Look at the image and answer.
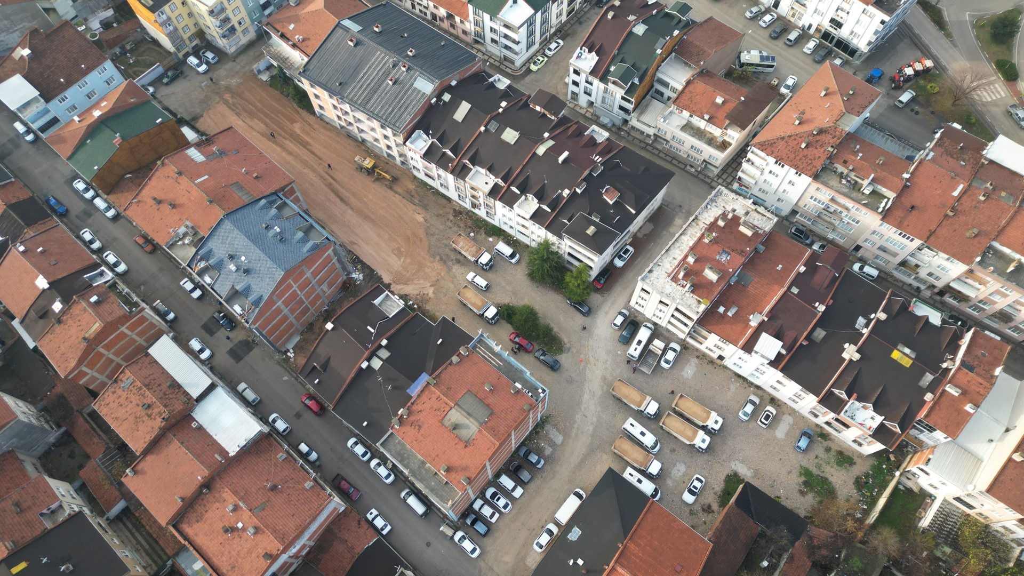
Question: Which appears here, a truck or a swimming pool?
truck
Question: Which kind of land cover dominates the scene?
buildings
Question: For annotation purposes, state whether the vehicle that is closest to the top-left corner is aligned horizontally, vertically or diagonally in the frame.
diagonally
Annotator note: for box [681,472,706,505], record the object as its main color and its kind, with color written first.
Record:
white car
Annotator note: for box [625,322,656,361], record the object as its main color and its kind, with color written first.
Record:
white vehicle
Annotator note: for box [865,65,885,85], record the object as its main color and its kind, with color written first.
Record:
blue work vehicle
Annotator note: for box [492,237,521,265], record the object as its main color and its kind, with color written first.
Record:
white van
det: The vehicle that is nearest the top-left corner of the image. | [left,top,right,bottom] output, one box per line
[9,118,38,142]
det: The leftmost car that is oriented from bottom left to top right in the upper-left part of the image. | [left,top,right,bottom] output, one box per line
[160,67,184,86]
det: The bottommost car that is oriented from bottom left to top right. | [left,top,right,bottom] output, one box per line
[530,524,558,555]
